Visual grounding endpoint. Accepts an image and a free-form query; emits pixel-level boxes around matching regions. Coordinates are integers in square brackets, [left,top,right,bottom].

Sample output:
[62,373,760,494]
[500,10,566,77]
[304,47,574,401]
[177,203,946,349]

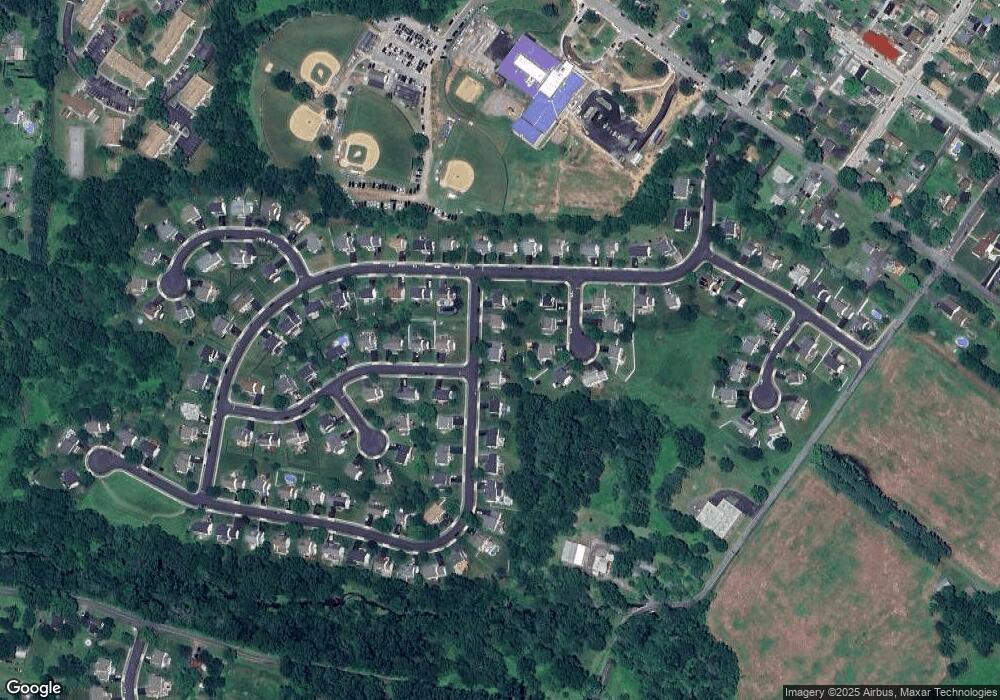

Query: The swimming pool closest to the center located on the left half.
[335,334,351,348]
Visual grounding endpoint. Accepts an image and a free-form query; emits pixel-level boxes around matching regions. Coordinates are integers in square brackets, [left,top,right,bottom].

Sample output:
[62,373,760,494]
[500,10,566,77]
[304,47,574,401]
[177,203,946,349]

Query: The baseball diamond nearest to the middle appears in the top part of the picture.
[436,160,475,197]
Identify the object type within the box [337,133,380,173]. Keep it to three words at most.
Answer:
baseball field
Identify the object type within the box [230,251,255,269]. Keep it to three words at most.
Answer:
house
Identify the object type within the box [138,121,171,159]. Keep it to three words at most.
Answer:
building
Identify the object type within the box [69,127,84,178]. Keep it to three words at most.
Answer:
basketball court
